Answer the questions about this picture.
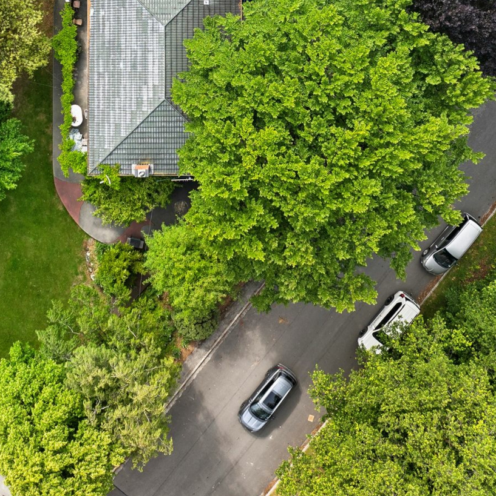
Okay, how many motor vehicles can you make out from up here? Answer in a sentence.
My tally gives 3 motor vehicles in this view.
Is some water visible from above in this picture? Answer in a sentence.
No, there's no water in this view.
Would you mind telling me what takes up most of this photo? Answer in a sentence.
Most of the picture is covered by trees.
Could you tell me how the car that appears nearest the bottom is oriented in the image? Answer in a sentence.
In this picture, the car that appears nearest the bottom is oriented diagonally.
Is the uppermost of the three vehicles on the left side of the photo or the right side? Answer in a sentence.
It is on the right.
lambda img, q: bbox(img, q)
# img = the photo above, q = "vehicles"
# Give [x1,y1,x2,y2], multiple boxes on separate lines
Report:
[356,288,422,362]
[421,210,486,278]
[239,362,298,432]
